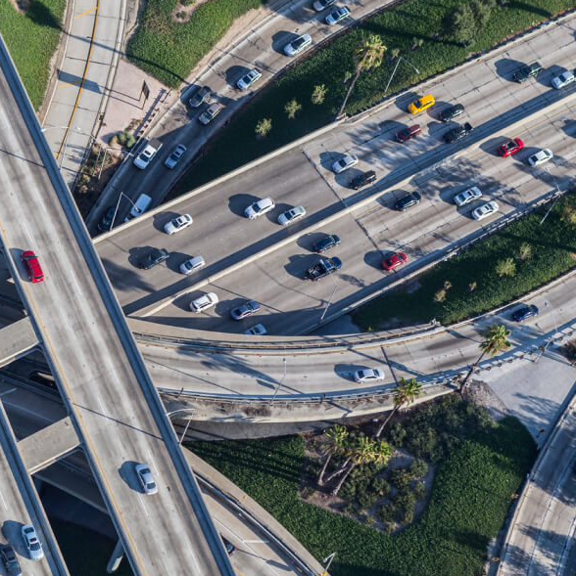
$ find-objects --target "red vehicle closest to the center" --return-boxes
[379,251,408,272]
